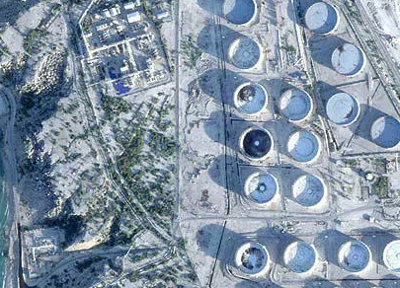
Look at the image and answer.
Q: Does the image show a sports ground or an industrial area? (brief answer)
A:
industrial area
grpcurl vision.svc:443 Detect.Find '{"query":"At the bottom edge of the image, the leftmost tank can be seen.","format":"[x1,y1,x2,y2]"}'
[236,242,272,278]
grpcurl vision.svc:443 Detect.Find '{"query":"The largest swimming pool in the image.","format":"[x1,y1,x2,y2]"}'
[111,79,129,95]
